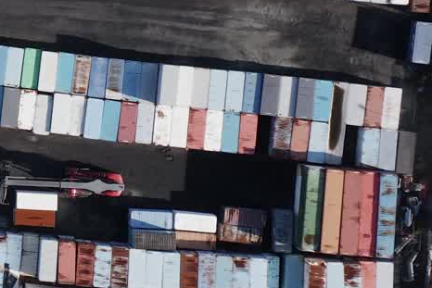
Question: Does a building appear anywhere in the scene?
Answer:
No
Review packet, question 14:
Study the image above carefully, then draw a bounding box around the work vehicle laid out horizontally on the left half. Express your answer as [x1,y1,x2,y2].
[0,158,125,202]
